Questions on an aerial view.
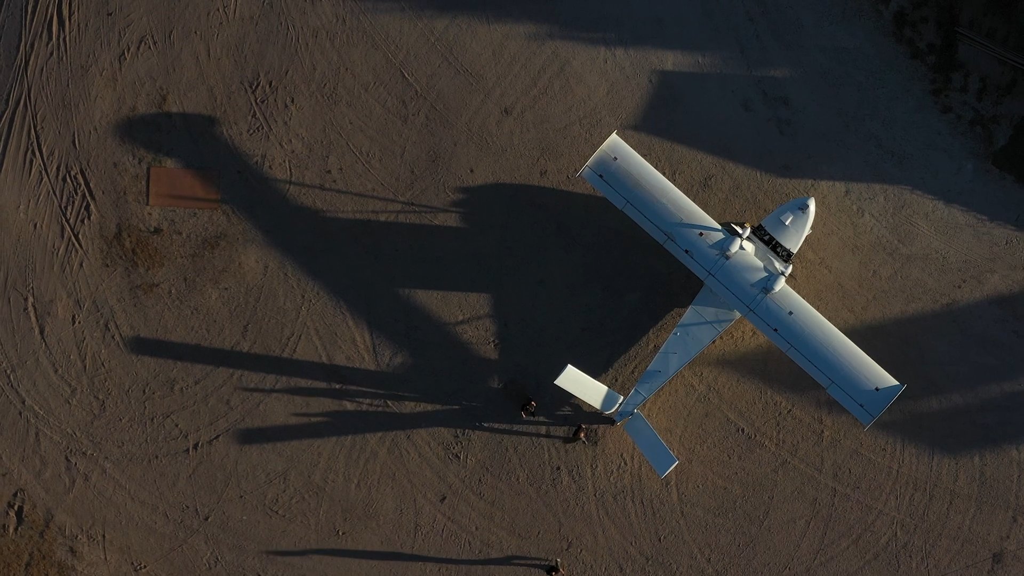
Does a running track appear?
No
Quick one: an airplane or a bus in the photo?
airplane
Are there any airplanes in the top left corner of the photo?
No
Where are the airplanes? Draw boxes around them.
[555,129,911,478]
